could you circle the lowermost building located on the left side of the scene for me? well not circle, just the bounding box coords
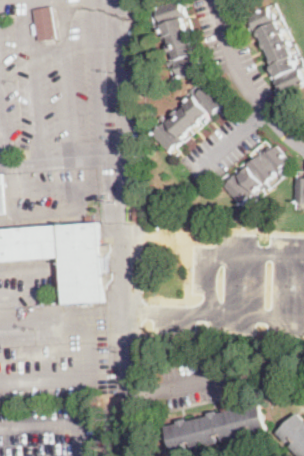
[0,224,112,306]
